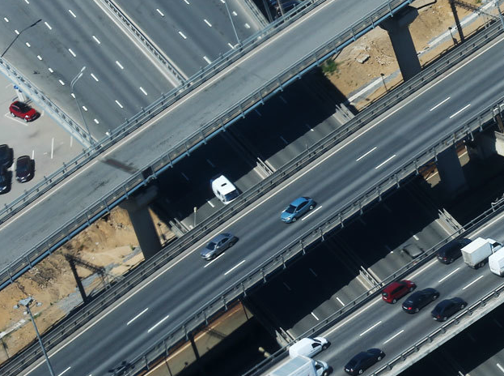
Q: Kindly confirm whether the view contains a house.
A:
No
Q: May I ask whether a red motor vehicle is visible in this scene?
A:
Yes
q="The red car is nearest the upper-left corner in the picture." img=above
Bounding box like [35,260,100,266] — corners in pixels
[7,98,38,122]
